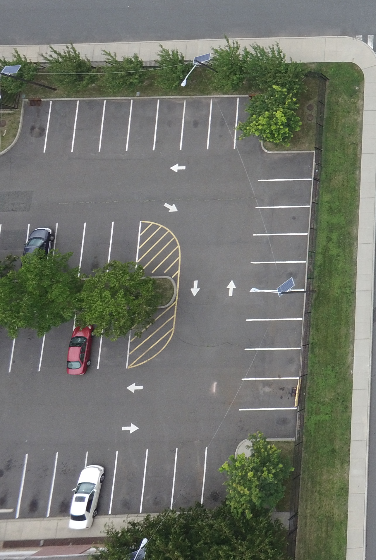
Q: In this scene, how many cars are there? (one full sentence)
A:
The photo contains 3 cars.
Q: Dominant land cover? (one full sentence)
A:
The bulk of the photo consists of paved ground.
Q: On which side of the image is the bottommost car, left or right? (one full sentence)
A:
You can find the bottommost car on the left side of the picture.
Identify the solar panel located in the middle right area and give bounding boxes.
[266,280,291,301]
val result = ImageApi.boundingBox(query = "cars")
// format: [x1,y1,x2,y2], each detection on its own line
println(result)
[21,230,57,269]
[65,326,93,374]
[69,464,106,530]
